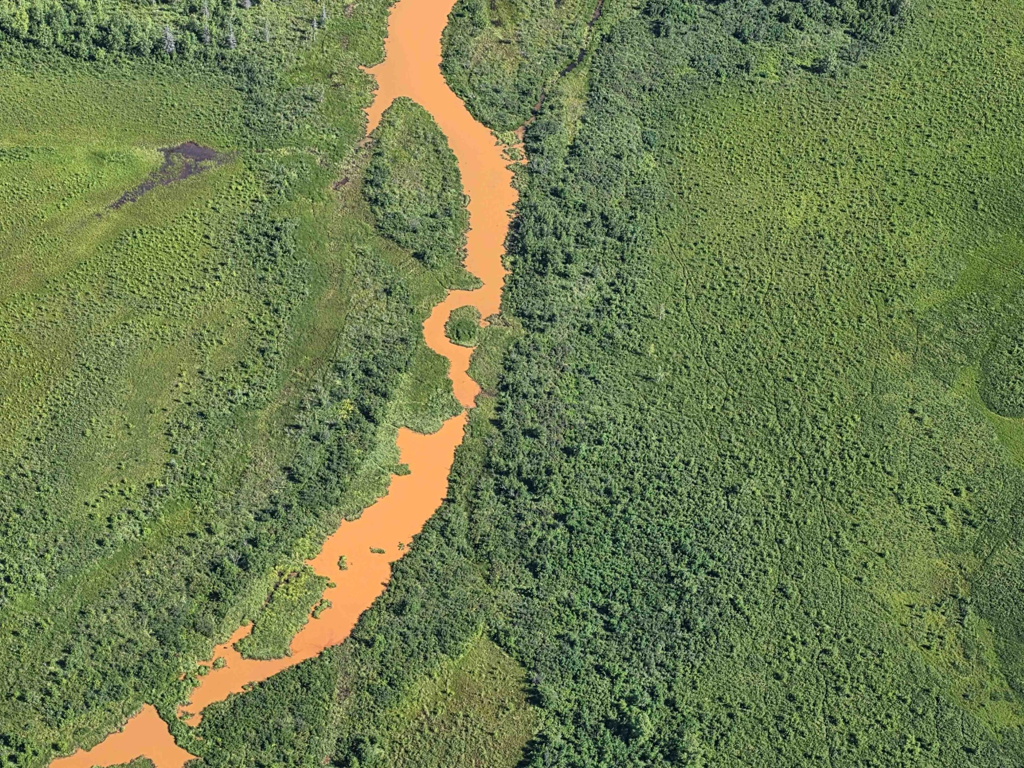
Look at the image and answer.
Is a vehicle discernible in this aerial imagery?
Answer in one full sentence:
No, I can't see a single vehicle in this photo.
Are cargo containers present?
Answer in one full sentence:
No, the frame has no cargo container in it.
